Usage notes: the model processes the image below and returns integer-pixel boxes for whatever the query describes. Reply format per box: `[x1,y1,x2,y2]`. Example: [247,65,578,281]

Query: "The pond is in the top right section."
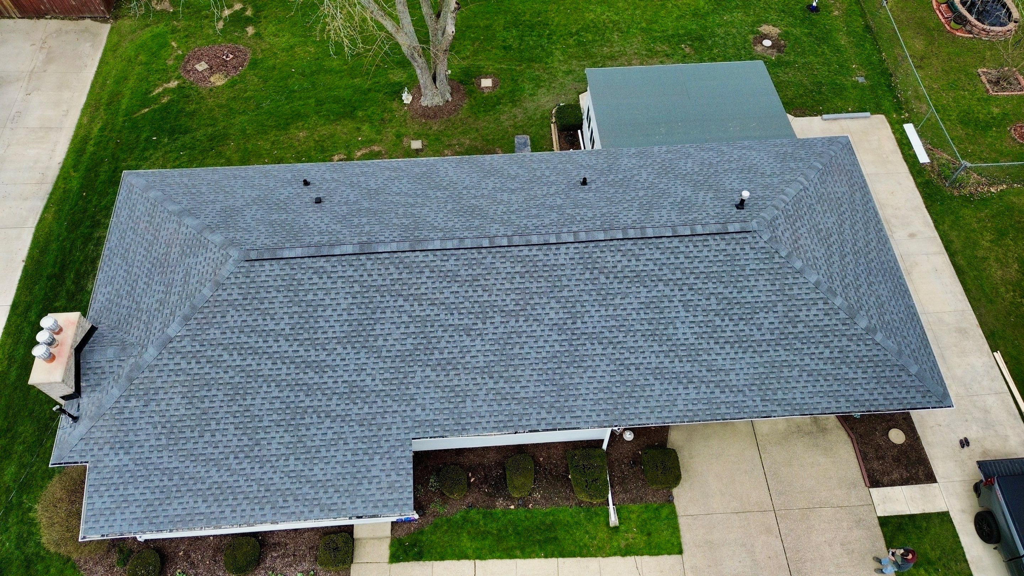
[945,0,1020,41]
